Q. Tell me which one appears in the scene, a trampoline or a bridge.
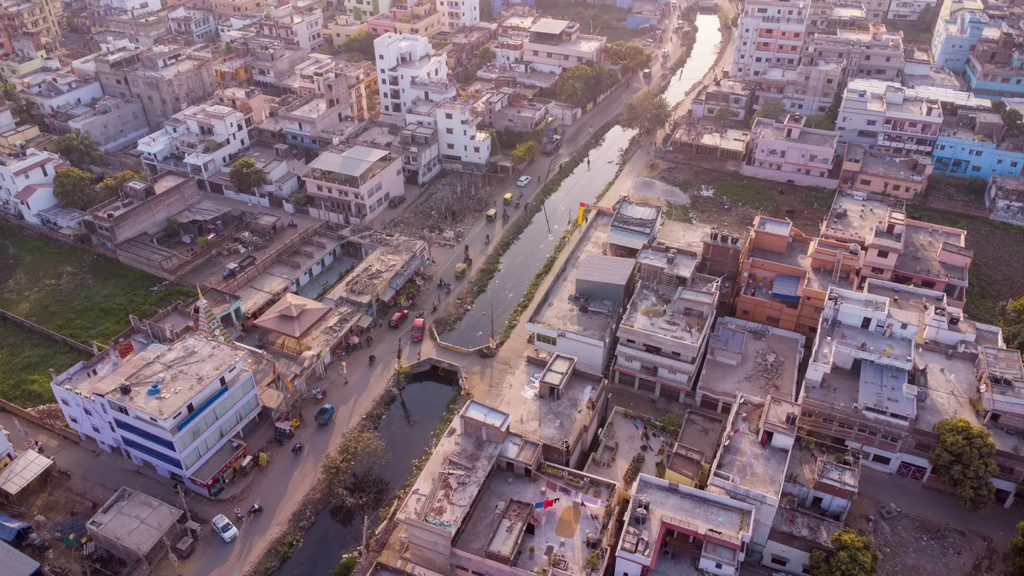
bridge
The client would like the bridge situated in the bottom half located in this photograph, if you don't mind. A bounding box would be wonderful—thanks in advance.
[392,325,509,391]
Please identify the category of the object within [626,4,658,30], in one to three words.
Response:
shed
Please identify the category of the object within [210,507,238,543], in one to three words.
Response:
car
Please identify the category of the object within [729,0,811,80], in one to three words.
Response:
building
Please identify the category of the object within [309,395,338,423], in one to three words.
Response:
truck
